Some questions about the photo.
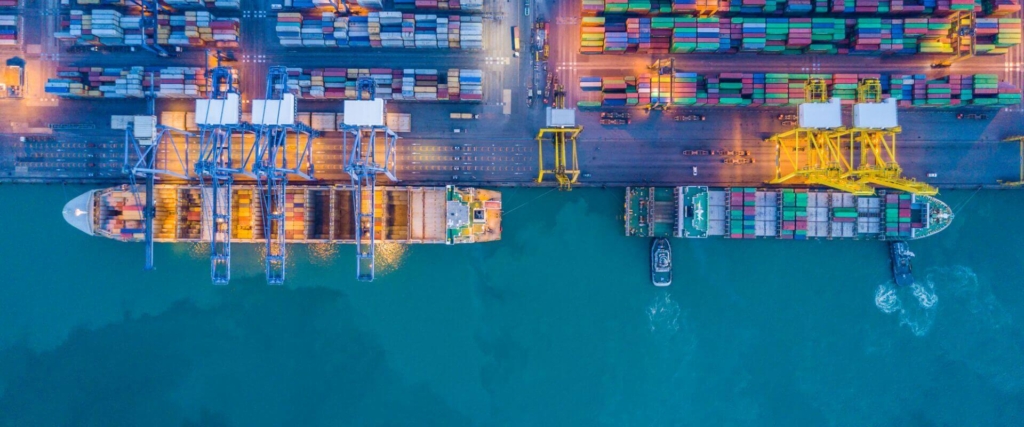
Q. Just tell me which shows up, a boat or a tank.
boat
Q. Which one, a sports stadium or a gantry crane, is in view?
gantry crane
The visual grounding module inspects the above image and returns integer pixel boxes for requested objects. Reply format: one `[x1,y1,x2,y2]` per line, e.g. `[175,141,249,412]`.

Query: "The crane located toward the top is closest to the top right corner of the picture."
[936,9,974,67]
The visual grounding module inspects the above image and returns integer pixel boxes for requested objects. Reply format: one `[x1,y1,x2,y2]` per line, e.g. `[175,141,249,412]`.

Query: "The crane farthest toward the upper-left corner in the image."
[140,3,175,66]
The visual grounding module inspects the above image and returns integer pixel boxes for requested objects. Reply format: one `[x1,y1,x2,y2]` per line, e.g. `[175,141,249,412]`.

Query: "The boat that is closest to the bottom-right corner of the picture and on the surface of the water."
[892,241,917,287]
